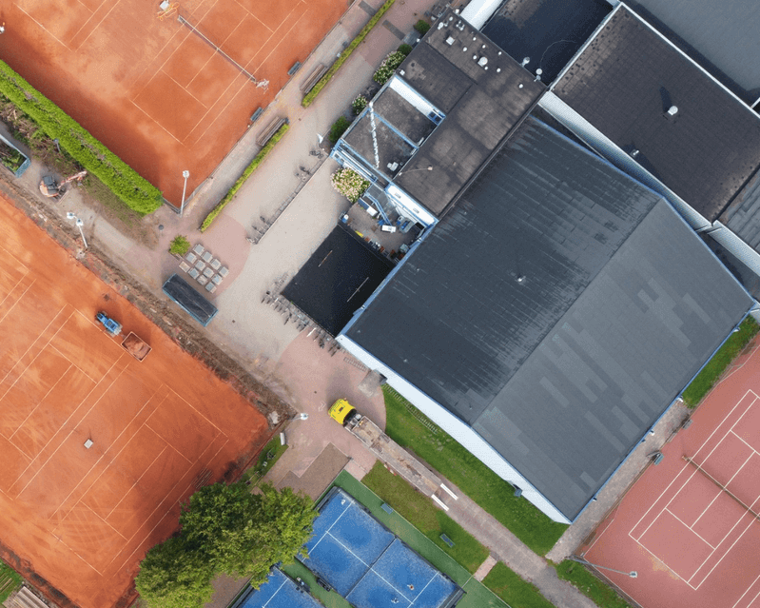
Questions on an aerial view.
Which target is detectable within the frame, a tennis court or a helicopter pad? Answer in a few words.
tennis court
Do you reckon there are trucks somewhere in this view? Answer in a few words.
Yes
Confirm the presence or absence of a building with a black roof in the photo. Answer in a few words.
Yes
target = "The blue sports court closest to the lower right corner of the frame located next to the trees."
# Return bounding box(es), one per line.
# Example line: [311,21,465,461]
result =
[295,488,471,608]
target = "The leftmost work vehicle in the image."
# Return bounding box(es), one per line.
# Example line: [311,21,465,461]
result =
[42,167,78,198]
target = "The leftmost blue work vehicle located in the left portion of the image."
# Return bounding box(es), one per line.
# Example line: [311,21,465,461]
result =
[96,312,123,336]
